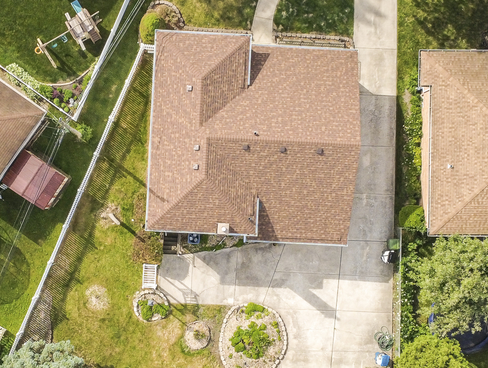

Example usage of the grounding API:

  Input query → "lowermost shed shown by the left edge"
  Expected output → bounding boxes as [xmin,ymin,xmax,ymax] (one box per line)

[2,150,71,210]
